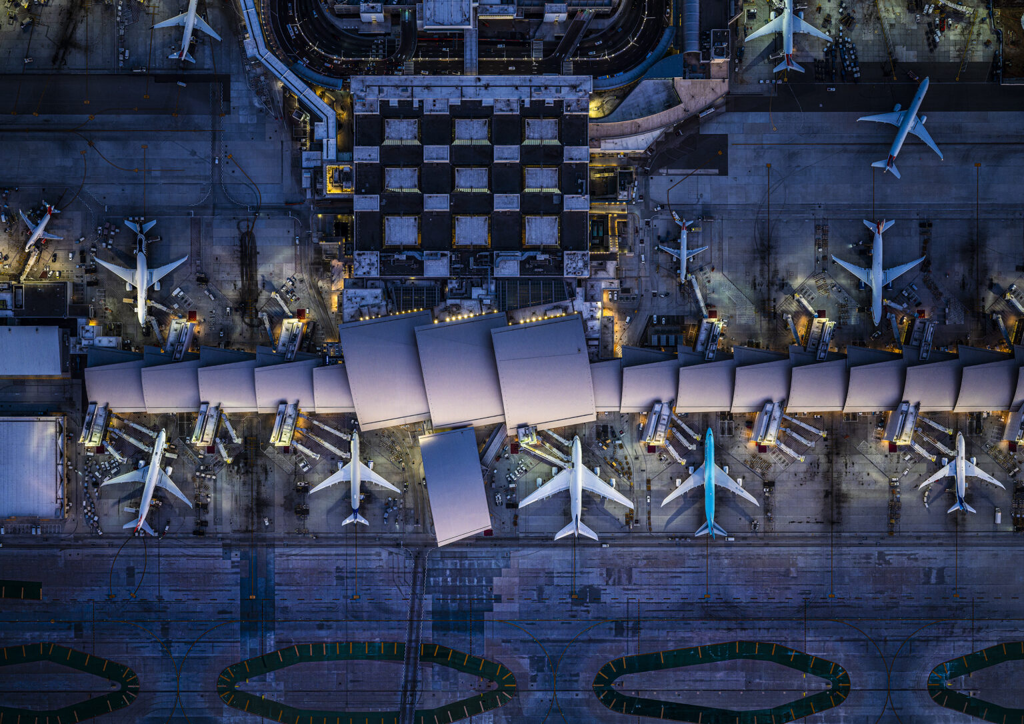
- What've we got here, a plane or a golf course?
plane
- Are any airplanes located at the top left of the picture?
Yes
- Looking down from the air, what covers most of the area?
paved ground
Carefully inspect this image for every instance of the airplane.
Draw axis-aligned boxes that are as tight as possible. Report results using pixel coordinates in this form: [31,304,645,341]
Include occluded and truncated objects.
[661,427,759,539]
[152,0,222,62]
[858,77,941,178]
[519,436,635,542]
[102,428,192,535]
[308,429,401,527]
[745,0,833,71]
[94,218,187,326]
[832,217,925,327]
[916,431,1007,514]
[658,219,708,284]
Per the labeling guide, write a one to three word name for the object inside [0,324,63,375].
hangar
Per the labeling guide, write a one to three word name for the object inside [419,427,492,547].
building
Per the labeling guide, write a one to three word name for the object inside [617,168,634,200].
building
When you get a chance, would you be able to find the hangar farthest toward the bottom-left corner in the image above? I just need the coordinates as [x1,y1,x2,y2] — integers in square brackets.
[0,416,69,520]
